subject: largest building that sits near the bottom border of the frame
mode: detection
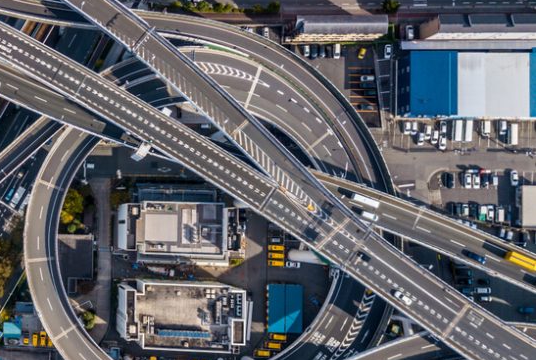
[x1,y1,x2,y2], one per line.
[113,278,250,353]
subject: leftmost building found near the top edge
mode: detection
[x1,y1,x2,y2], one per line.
[287,15,390,45]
